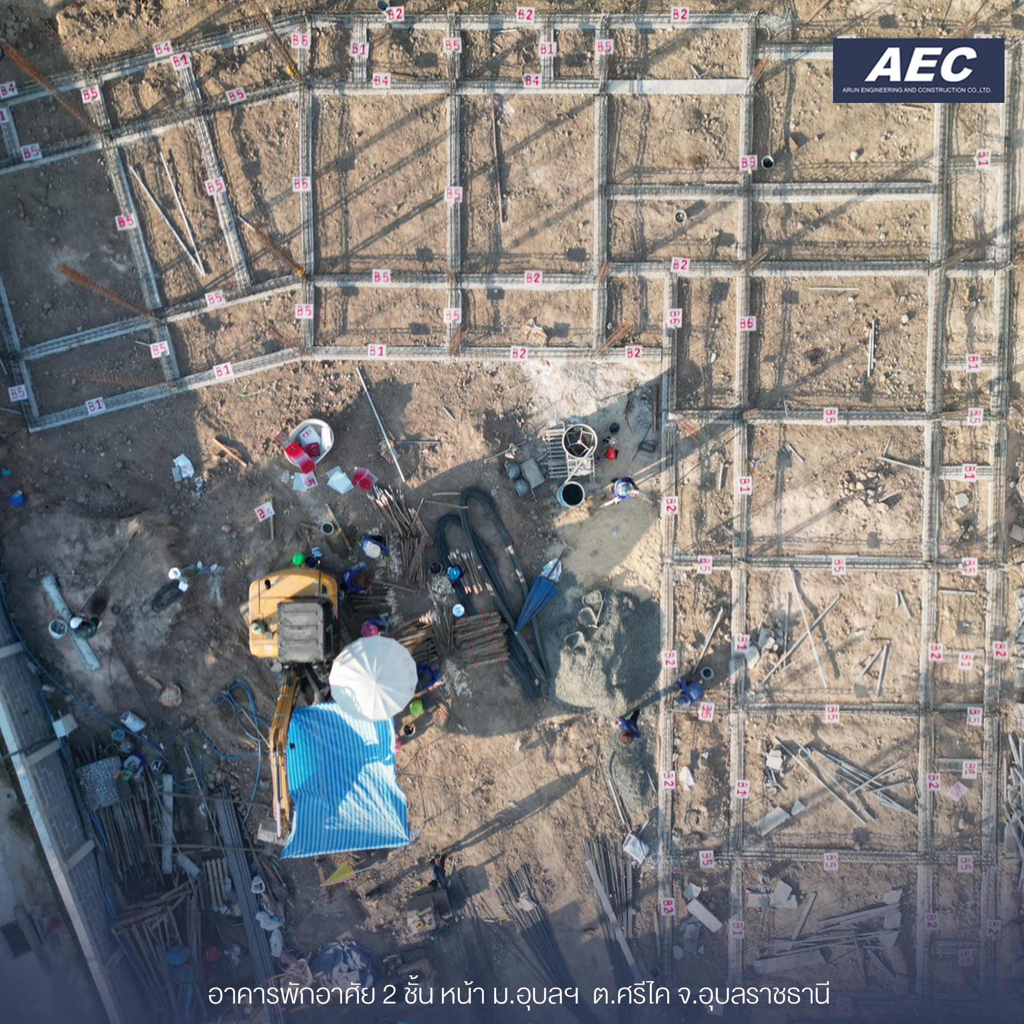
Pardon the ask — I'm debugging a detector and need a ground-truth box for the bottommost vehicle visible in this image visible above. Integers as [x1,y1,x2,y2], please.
[250,566,345,854]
